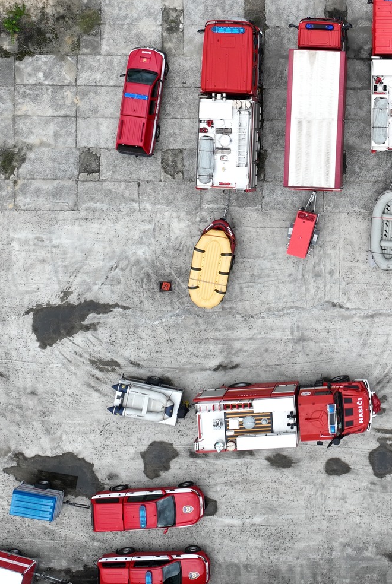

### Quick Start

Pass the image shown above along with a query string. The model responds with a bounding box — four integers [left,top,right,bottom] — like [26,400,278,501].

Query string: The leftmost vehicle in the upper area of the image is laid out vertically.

[116,45,173,161]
